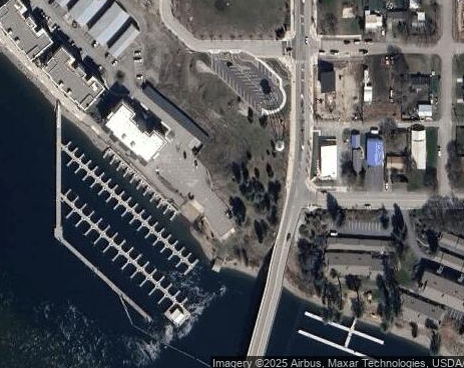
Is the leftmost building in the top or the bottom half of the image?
top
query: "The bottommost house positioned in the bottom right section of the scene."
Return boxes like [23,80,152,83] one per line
[398,293,445,330]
